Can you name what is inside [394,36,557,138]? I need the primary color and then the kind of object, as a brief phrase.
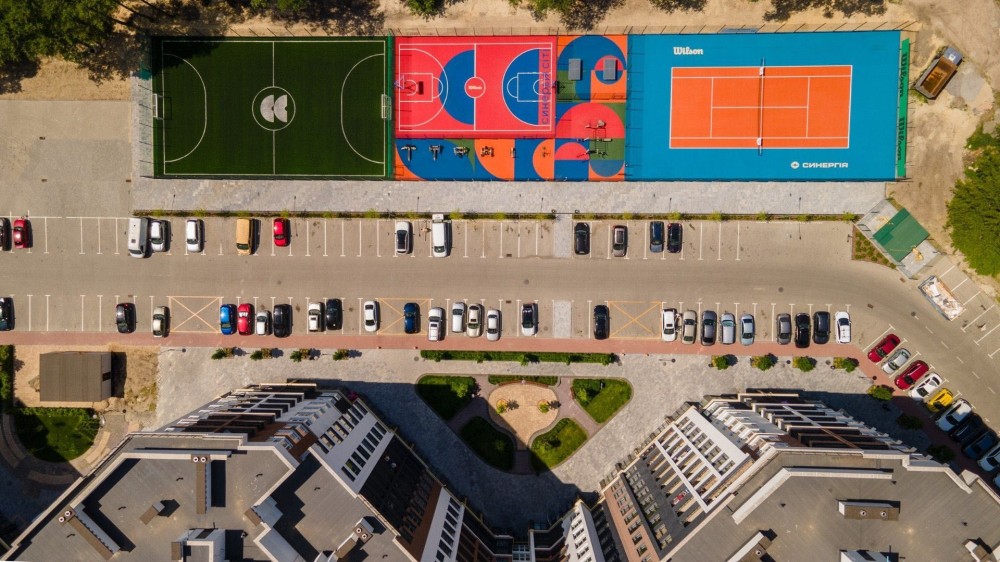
red basketball court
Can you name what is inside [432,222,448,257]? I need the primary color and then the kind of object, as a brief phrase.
white vehicle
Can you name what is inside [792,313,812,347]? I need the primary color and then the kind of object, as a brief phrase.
black car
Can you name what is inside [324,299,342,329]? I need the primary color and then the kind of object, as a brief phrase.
black car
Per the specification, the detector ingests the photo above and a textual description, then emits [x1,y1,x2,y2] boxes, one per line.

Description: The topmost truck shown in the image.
[913,48,963,98]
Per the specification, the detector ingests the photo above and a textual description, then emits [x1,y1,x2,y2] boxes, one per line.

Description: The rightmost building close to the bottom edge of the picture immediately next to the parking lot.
[588,389,1000,562]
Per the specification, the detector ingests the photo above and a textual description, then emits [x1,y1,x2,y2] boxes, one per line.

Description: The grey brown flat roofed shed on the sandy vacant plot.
[40,352,111,401]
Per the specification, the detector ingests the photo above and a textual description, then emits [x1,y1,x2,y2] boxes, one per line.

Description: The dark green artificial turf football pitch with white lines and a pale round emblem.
[152,36,392,180]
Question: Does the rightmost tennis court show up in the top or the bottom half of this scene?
top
